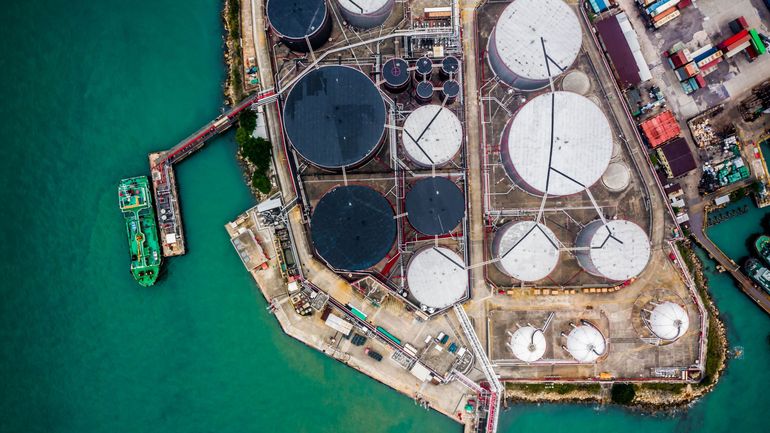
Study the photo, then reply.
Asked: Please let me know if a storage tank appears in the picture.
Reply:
Yes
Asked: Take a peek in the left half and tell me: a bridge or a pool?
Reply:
bridge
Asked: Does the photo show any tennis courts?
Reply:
No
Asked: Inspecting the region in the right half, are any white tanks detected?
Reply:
Yes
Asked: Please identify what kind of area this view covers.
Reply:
port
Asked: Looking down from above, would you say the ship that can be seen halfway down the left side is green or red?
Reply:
green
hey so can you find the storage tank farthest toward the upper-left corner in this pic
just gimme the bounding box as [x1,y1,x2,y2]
[263,0,338,60]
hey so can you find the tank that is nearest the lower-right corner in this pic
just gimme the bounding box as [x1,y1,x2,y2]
[566,207,652,288]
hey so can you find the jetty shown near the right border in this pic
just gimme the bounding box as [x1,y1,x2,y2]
[696,241,770,315]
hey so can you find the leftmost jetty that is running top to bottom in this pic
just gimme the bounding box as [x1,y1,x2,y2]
[147,151,186,258]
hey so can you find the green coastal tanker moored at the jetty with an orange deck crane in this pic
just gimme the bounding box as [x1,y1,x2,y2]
[116,160,166,288]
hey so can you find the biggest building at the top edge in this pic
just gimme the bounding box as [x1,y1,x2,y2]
[594,15,641,91]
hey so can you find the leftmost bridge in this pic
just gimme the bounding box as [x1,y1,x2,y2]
[153,101,277,167]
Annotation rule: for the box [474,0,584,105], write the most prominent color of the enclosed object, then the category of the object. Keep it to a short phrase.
white storage tank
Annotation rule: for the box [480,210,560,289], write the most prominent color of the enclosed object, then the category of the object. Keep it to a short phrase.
white storage tank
